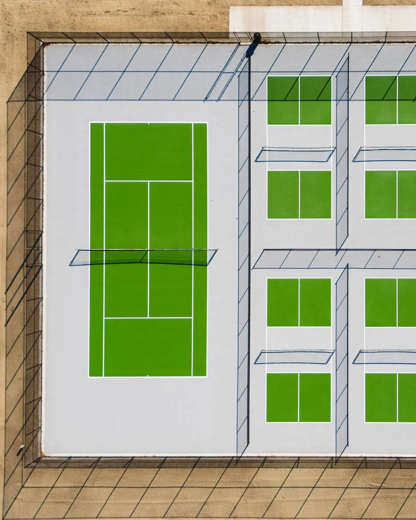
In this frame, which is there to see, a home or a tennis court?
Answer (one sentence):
Visible in the photo is a tennis court.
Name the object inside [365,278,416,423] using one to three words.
sports court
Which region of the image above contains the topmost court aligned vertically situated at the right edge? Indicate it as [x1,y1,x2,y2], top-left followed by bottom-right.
[365,75,416,218]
